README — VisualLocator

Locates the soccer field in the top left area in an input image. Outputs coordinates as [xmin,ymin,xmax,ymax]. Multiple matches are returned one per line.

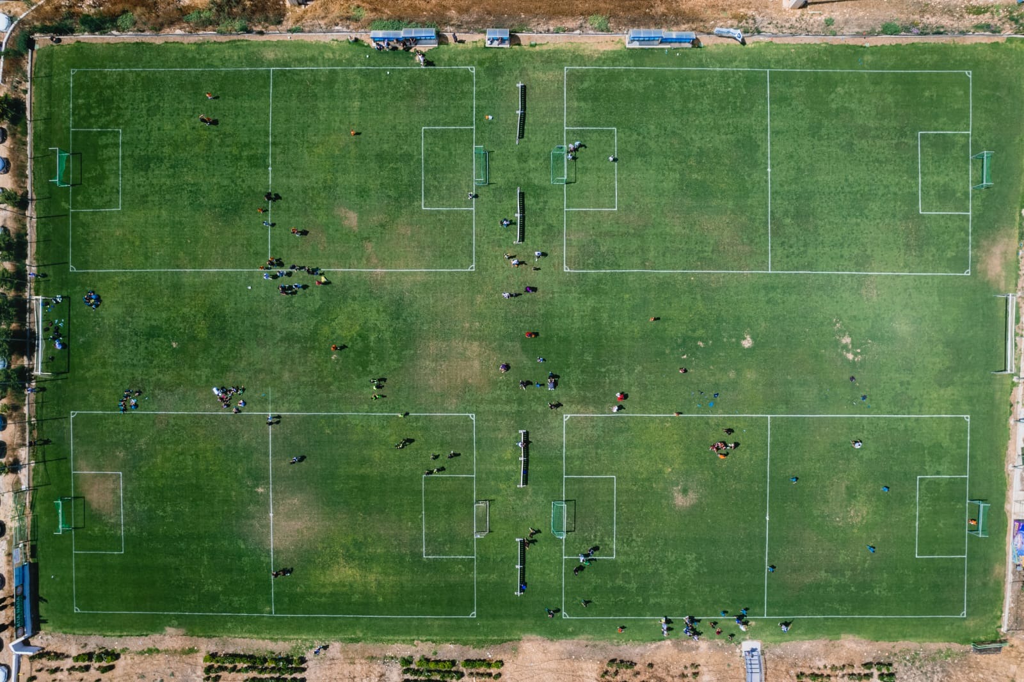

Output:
[69,67,475,270]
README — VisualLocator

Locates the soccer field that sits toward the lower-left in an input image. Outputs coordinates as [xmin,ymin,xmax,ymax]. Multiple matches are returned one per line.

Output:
[72,395,475,618]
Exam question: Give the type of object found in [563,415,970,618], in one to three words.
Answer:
soccer field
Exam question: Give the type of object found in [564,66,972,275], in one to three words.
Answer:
soccer field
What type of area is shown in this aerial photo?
sports ground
